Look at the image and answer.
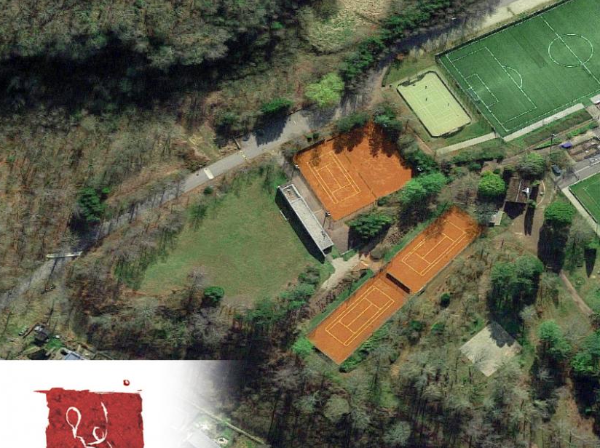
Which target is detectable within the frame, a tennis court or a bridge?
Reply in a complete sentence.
It is a tennis court that can be seen here.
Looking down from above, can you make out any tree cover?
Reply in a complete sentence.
Yes, there is tree cover in the image.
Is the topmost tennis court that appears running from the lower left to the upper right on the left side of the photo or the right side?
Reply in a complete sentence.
The topmost tennis court that appears running from the lower left to the upper right is on the right side of the image.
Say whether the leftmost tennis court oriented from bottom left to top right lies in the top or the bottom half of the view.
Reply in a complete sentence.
The bottom half of the photo is where the leftmost tennis court oriented from bottom left to top right is.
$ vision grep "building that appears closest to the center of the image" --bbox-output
[280,183,336,257]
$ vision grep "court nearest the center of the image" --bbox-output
[294,143,371,221]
